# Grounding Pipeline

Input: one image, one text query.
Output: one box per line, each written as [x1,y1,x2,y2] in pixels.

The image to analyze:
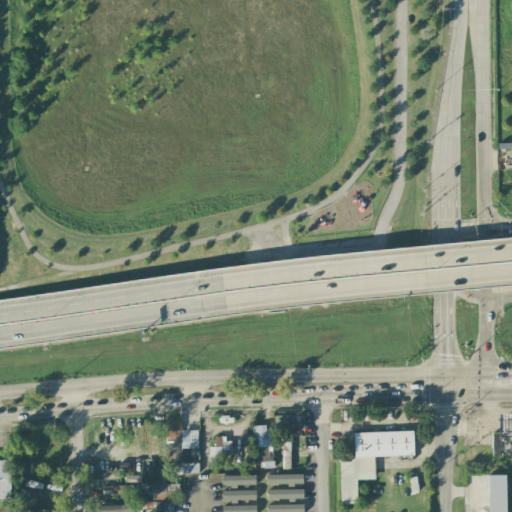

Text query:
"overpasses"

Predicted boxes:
[0,237,512,348]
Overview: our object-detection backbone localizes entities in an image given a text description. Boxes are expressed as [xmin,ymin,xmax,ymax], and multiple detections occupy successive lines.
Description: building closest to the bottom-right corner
[470,474,508,512]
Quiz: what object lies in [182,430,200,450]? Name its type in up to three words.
building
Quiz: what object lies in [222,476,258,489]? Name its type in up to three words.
building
